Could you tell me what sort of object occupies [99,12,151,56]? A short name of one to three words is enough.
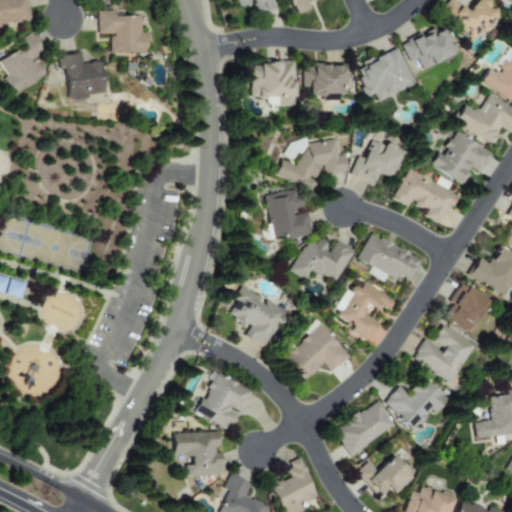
house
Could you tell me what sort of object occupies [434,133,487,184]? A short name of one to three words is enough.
house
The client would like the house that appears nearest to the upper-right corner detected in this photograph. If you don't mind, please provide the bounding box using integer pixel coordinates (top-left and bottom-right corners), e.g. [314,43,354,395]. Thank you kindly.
[448,0,501,36]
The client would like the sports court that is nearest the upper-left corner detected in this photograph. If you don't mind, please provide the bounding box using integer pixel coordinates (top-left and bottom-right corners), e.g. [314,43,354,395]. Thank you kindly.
[0,212,92,273]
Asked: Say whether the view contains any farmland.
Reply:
No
